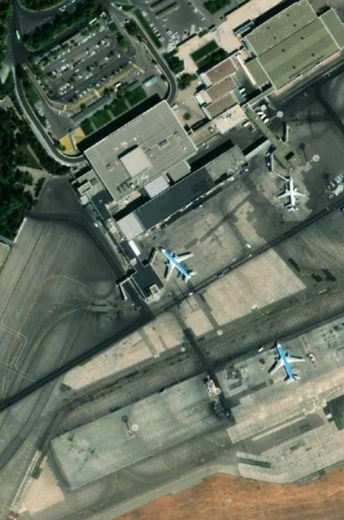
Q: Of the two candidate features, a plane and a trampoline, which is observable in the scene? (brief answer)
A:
plane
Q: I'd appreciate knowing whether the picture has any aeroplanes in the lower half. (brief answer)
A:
Yes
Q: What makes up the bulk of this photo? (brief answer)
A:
paved ground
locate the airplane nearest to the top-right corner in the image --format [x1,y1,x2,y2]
[278,177,305,211]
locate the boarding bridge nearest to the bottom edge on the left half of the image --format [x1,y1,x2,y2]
[118,275,133,301]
